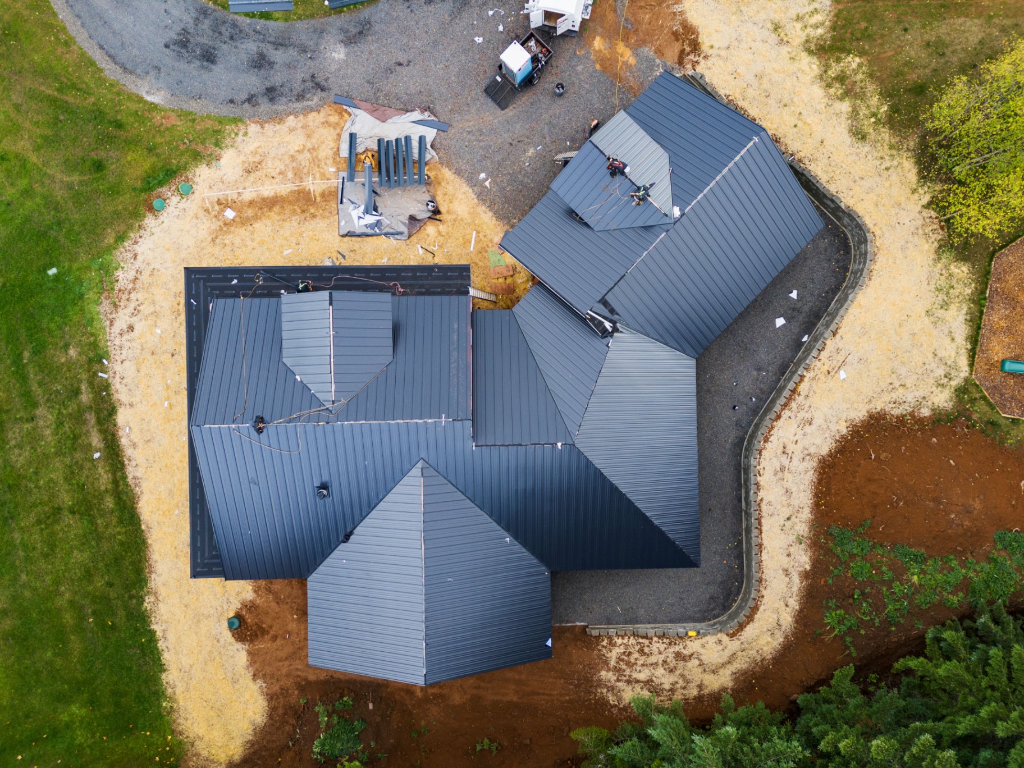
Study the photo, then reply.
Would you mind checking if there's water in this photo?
No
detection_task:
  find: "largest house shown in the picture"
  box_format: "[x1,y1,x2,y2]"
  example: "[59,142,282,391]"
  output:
[184,67,826,687]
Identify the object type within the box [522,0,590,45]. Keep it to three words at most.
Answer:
truck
